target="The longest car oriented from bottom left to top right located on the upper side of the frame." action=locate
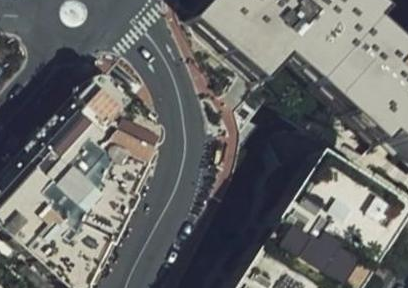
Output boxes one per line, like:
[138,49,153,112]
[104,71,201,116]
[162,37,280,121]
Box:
[6,80,22,96]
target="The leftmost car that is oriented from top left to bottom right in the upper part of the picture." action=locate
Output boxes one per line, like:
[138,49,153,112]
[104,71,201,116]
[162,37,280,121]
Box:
[138,45,153,62]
